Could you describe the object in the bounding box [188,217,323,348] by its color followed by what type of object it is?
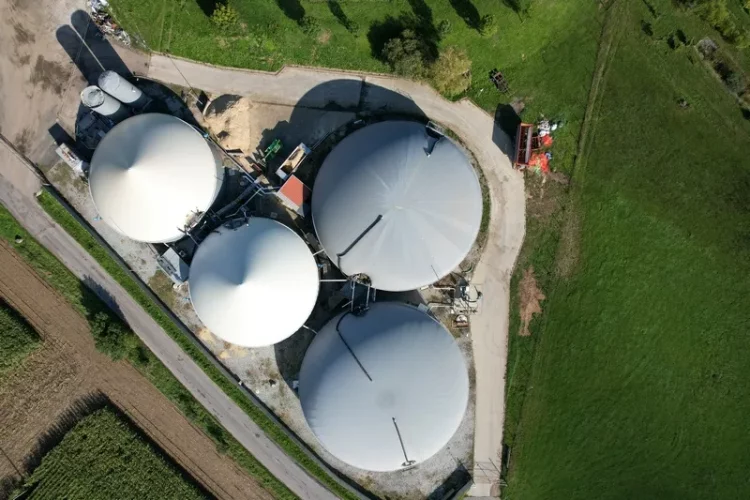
white storage tank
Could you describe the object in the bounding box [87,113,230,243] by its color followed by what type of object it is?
white storage tank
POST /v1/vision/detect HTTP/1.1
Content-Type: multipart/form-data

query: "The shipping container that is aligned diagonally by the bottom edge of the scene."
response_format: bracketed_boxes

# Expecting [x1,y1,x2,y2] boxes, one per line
[442,474,475,500]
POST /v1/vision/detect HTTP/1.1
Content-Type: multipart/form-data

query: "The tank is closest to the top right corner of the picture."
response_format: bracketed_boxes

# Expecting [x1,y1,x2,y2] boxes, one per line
[311,121,482,294]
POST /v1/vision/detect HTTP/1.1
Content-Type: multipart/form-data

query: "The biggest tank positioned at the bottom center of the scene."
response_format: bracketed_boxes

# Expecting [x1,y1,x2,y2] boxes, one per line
[298,299,470,474]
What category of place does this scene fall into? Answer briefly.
industrial area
